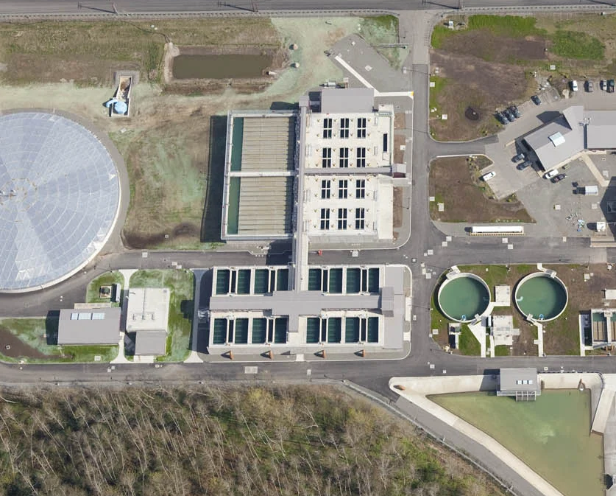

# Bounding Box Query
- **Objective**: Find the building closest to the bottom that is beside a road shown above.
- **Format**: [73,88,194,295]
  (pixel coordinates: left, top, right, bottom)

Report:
[497,368,541,403]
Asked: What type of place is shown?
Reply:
industrial area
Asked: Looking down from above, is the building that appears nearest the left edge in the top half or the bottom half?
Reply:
bottom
